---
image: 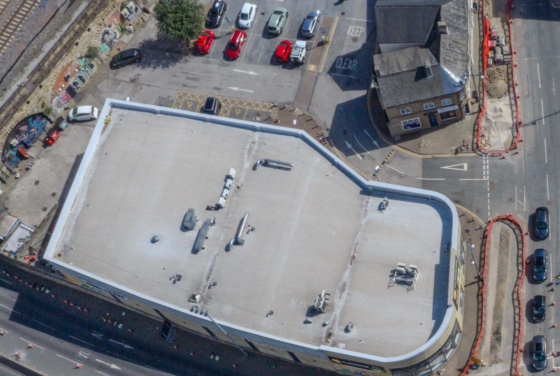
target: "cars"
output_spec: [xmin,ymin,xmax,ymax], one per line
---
[531,334,548,371]
[206,0,227,26]
[225,28,247,60]
[196,29,216,54]
[109,47,143,70]
[238,1,257,28]
[266,7,286,35]
[300,11,319,40]
[531,293,547,324]
[532,247,548,282]
[203,95,221,115]
[274,37,293,63]
[68,104,100,122]
[534,206,549,239]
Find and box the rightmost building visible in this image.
[371,0,476,135]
